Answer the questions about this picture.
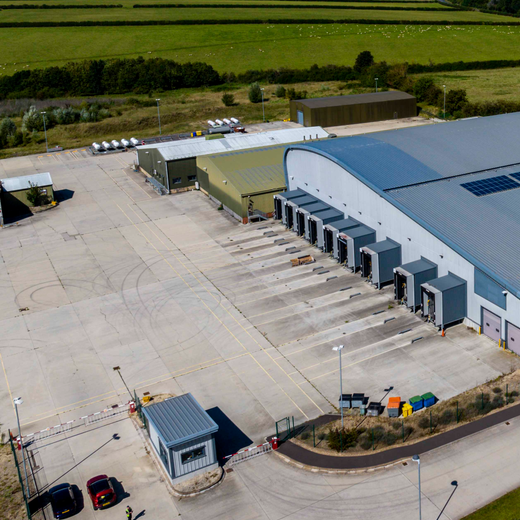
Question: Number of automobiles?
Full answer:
Looking from above, you can make out 2 automobiles.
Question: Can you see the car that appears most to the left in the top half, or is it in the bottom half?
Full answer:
The car that appears most to the left is in the bottom half of the image.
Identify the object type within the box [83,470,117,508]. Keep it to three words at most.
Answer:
car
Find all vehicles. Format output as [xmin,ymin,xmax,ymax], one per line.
[83,470,117,508]
[45,477,78,516]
